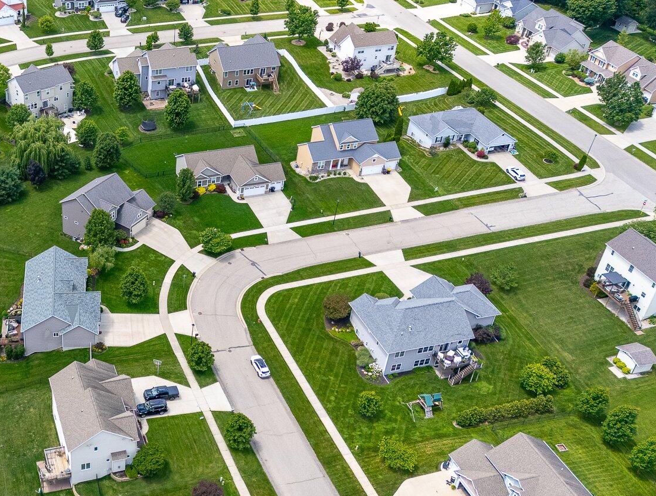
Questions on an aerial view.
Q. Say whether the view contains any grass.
Yes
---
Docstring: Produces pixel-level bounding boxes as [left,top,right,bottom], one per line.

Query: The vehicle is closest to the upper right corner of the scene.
[505,166,529,181]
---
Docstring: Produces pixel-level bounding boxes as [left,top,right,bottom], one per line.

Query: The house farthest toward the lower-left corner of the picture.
[42,359,144,488]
